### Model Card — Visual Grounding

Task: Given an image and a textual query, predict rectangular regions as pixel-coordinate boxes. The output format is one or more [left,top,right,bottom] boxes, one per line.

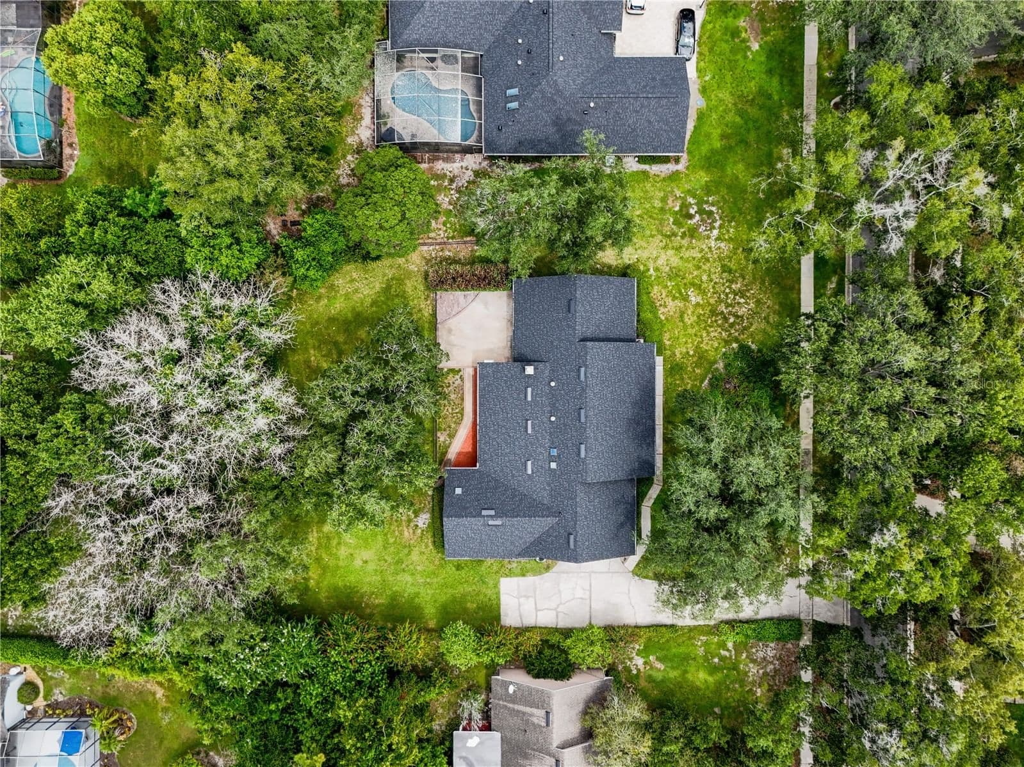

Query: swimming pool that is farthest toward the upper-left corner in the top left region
[0,56,53,155]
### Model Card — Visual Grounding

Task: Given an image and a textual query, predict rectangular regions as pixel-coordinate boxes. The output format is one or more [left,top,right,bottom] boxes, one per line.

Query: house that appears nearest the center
[442,275,657,563]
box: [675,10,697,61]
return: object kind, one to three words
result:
car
